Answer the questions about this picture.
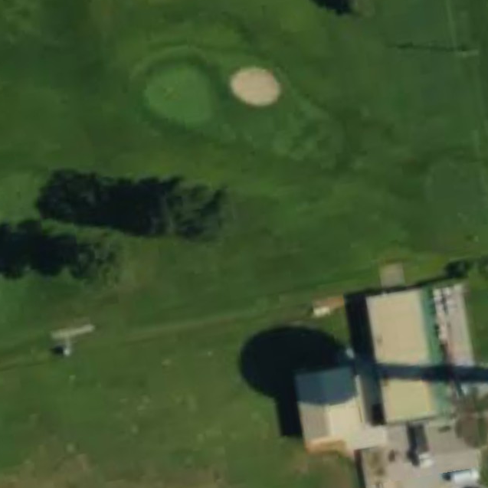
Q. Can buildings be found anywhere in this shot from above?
Yes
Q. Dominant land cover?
grass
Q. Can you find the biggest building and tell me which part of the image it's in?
bottom right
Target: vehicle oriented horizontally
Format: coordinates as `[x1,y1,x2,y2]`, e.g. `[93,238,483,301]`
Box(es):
[449,468,481,483]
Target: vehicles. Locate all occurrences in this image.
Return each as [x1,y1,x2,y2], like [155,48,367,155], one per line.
[449,468,481,483]
[415,427,433,465]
